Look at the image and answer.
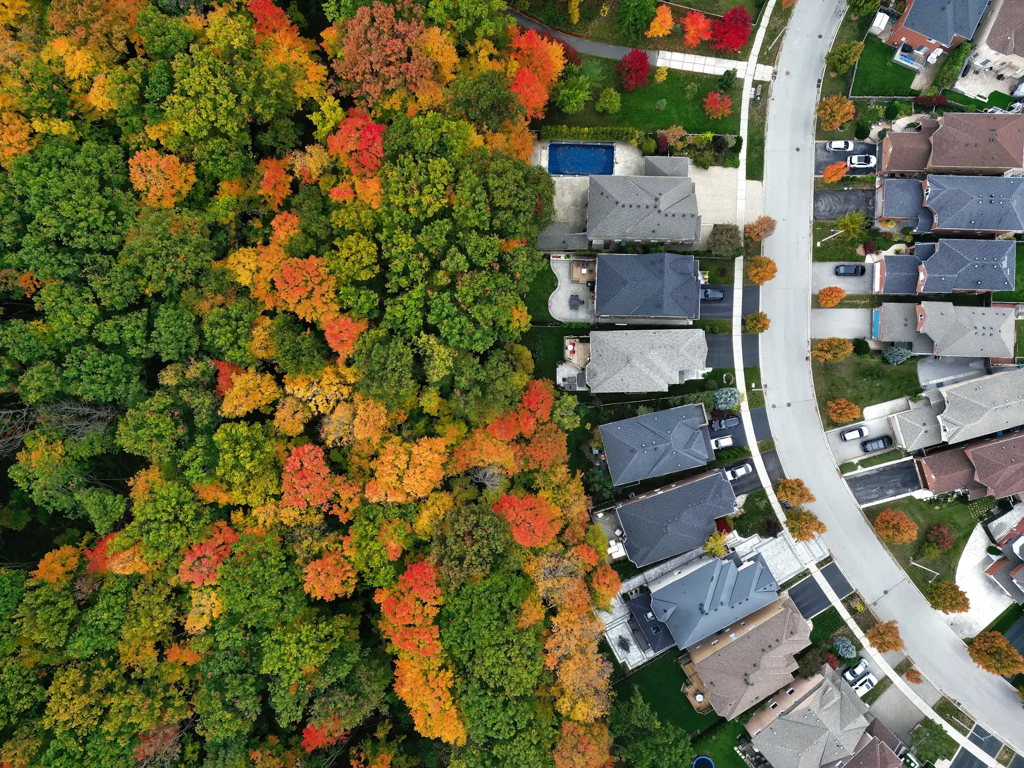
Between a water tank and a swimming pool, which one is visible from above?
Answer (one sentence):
This aerial view contains a swimming pool.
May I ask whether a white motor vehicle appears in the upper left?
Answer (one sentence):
No, no white motor vehicle appears in the upper left.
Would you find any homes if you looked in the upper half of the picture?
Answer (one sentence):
Yes, I can see a home in the upper half of the picture.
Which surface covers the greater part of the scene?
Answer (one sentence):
The scene is dominated by trees.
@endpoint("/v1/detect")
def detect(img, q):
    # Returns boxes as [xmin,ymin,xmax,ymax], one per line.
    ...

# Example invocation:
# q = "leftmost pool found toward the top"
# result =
[546,140,616,177]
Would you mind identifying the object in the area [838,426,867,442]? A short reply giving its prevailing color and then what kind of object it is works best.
white car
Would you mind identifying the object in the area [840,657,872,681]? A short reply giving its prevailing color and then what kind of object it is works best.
white car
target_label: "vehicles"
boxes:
[726,462,753,481]
[838,426,867,442]
[846,154,877,169]
[851,671,880,698]
[701,286,728,301]
[859,435,892,453]
[711,434,737,449]
[840,657,872,681]
[825,138,853,153]
[710,414,742,431]
[834,262,866,276]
